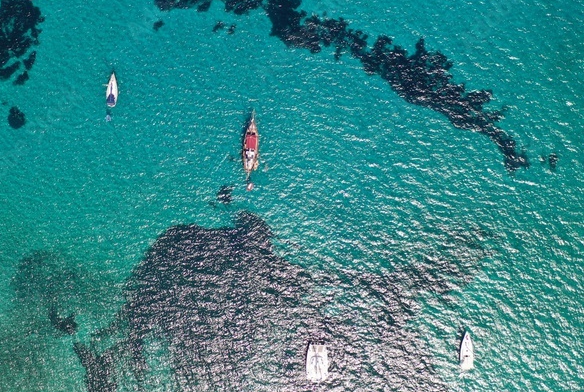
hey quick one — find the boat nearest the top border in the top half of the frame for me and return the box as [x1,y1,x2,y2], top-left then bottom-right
[105,73,118,108]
